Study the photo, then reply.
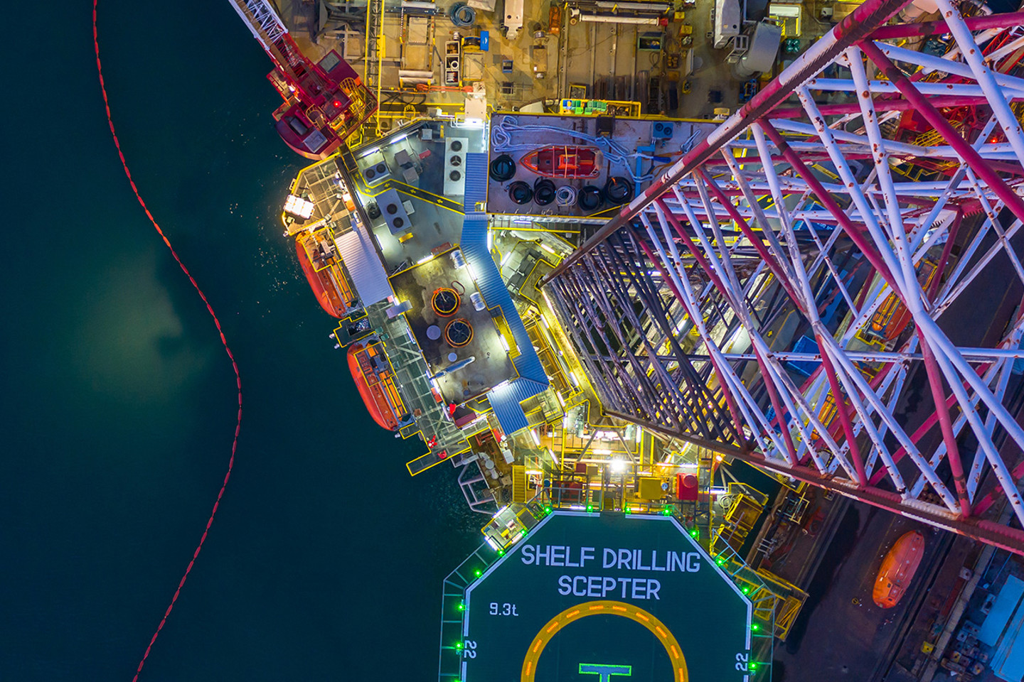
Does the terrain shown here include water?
Yes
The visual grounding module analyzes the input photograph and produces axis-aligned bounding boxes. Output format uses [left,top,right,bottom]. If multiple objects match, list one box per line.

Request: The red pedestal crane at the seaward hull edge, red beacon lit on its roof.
[230,0,378,170]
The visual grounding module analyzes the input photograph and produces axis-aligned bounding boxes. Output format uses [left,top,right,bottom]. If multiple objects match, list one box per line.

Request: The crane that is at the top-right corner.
[890,60,1024,180]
